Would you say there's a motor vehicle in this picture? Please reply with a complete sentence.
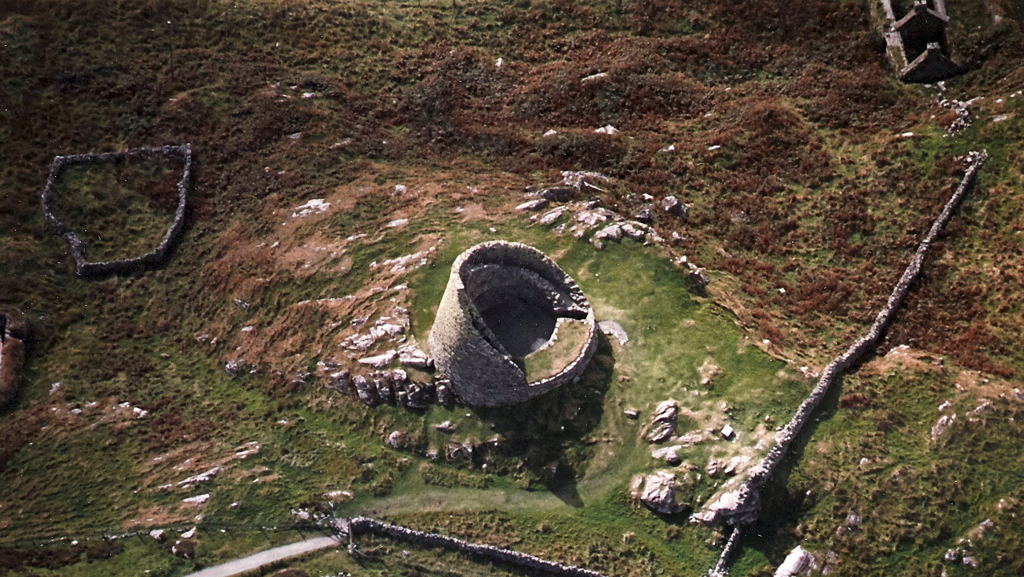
No, no motor vehicle can be seen from above.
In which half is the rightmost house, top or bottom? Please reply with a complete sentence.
It is in the top half that the rightmost house appears.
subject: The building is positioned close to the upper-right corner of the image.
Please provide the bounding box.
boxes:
[890,0,962,86]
